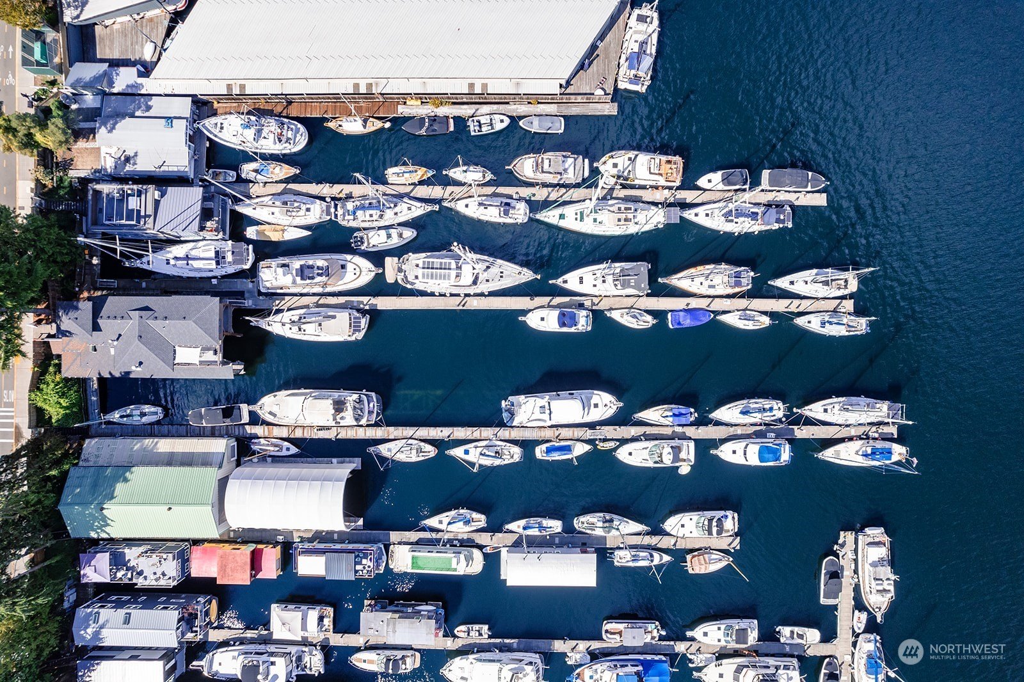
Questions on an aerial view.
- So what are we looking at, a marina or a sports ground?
marina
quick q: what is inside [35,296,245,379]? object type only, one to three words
house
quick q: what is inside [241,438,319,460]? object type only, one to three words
boat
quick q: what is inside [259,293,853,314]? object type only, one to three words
pier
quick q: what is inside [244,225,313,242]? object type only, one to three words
boat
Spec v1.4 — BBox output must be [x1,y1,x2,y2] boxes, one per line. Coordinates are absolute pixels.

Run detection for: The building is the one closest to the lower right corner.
[500,544,597,587]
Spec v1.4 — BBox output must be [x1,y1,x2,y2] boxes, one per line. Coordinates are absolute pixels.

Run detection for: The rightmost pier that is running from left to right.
[588,425,897,442]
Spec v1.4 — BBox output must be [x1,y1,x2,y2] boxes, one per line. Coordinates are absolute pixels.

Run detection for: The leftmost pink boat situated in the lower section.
[191,540,287,584]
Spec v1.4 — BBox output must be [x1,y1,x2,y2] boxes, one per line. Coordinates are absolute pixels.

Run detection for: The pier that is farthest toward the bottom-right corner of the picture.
[833,529,860,682]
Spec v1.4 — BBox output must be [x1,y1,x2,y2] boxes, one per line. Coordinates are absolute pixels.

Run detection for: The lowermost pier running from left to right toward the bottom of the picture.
[212,628,840,658]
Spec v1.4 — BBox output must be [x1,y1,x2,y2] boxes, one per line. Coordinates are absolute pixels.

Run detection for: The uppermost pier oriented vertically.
[191,97,210,186]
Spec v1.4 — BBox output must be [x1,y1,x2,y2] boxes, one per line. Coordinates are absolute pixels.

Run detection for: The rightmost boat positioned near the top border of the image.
[616,0,666,93]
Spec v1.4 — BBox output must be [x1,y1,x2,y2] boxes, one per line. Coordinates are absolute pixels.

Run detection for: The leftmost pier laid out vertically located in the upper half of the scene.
[90,238,104,296]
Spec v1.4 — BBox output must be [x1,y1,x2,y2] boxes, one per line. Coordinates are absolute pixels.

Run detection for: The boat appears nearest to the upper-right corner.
[760,169,830,193]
